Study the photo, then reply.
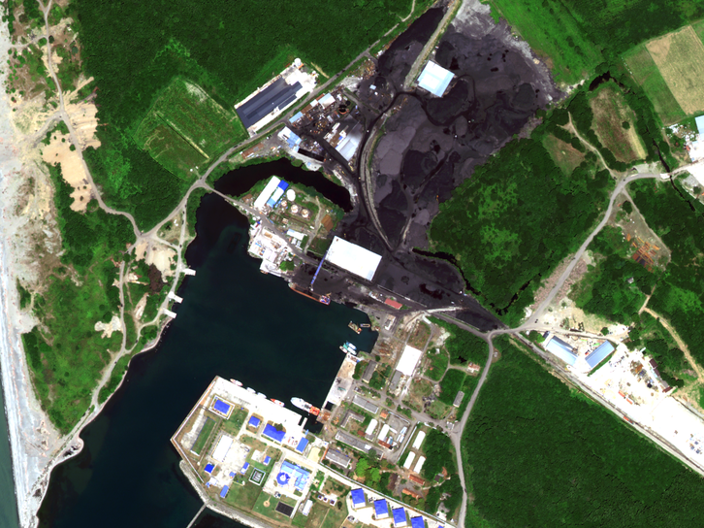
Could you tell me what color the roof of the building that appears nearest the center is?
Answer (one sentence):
The roof over the building that appears nearest the center appears white.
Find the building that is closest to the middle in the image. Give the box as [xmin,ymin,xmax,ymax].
[325,237,382,283]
